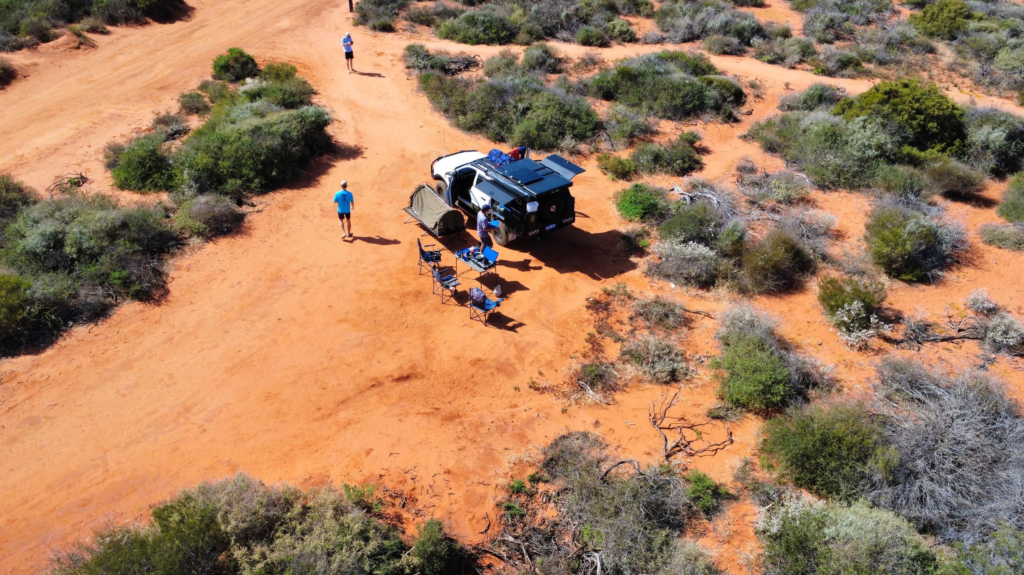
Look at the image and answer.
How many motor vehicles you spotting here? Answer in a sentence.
In total, there is 1 motor vehicle in the scene.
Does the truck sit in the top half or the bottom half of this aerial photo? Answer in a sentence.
The truck sits in the top half of the picture.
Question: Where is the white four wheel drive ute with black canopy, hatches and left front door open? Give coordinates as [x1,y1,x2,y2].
[429,127,584,249]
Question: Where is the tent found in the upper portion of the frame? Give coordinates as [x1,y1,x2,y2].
[402,180,466,247]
